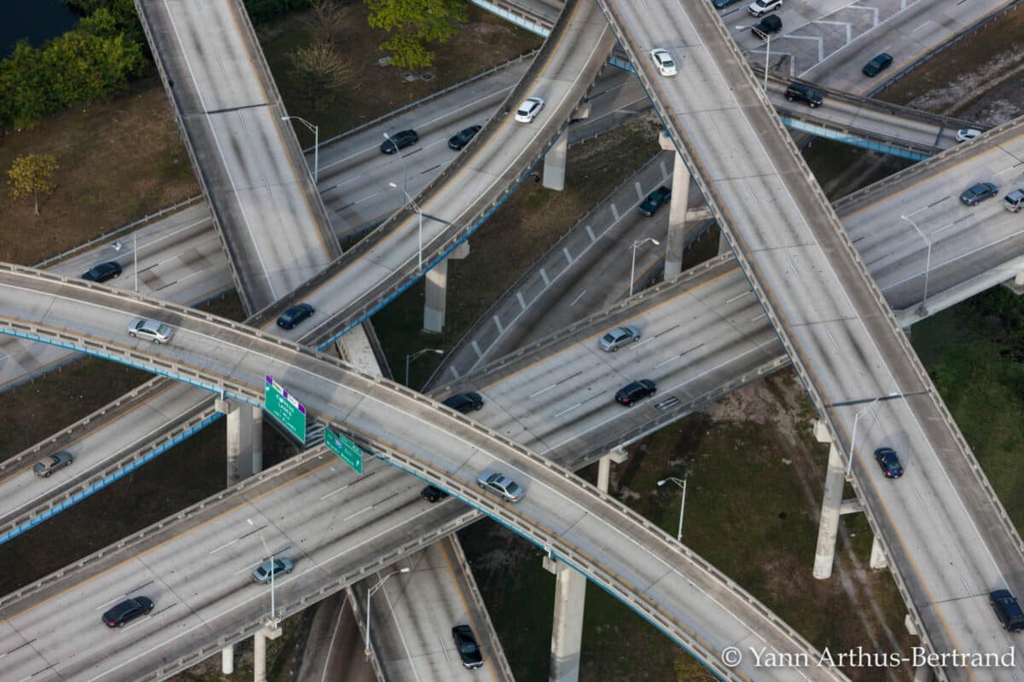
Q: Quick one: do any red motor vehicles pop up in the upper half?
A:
No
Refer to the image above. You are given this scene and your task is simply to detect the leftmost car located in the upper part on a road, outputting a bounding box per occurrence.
[83,261,120,282]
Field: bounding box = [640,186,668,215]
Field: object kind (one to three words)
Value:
truck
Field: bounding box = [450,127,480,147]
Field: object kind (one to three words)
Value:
car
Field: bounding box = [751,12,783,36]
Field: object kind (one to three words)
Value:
car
